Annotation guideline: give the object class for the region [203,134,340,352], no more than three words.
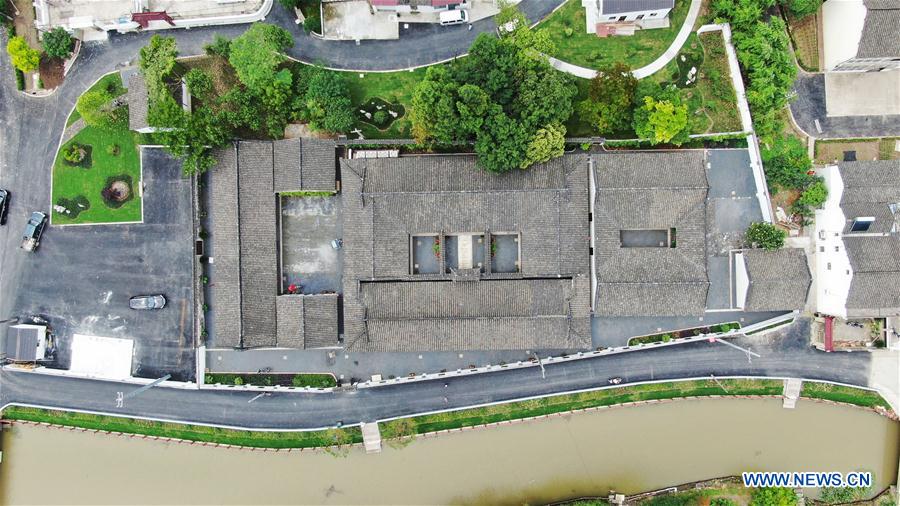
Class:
house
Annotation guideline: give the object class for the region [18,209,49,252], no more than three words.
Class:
truck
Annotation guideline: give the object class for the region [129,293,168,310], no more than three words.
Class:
car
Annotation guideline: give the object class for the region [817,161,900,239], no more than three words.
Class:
house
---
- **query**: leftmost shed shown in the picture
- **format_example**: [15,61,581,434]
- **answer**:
[9,325,48,362]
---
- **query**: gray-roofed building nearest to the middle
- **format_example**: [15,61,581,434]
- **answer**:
[340,156,590,352]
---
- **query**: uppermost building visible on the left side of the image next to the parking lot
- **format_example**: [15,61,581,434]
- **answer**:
[127,70,168,136]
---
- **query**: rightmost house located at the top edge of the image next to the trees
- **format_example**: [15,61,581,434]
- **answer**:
[824,0,900,71]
